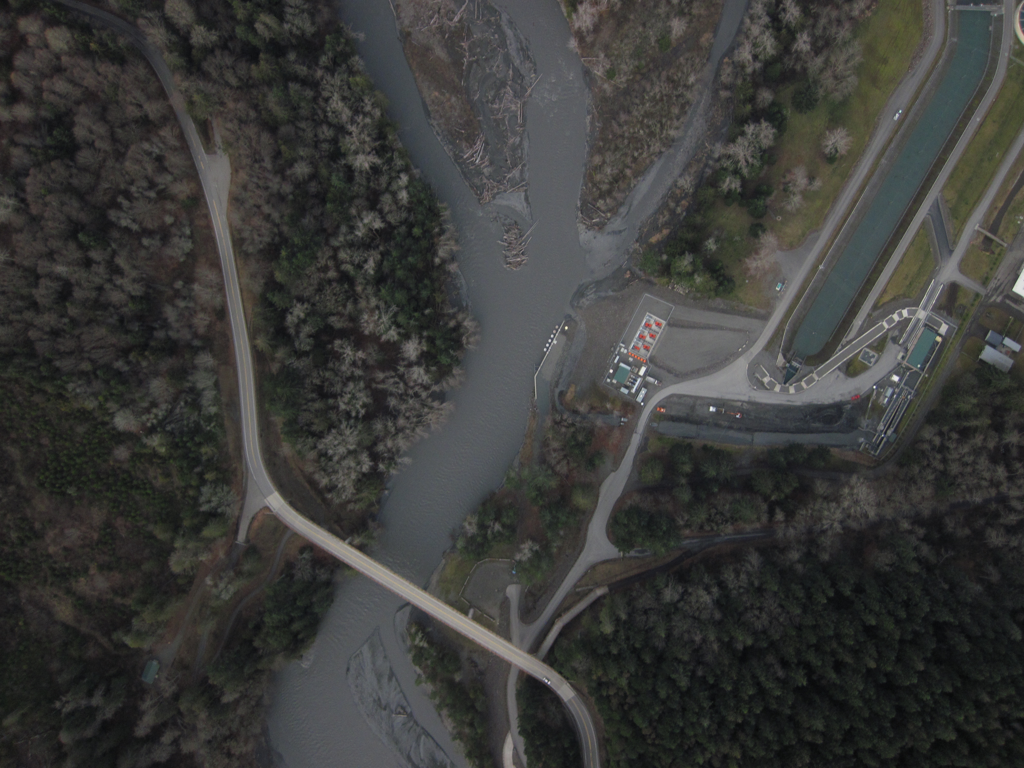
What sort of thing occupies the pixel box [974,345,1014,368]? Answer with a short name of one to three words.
shed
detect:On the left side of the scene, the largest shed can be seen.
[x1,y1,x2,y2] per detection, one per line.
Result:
[142,659,163,684]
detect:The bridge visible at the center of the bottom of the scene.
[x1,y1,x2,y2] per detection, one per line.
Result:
[265,491,577,704]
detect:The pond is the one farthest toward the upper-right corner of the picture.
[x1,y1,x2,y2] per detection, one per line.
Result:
[776,0,992,366]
